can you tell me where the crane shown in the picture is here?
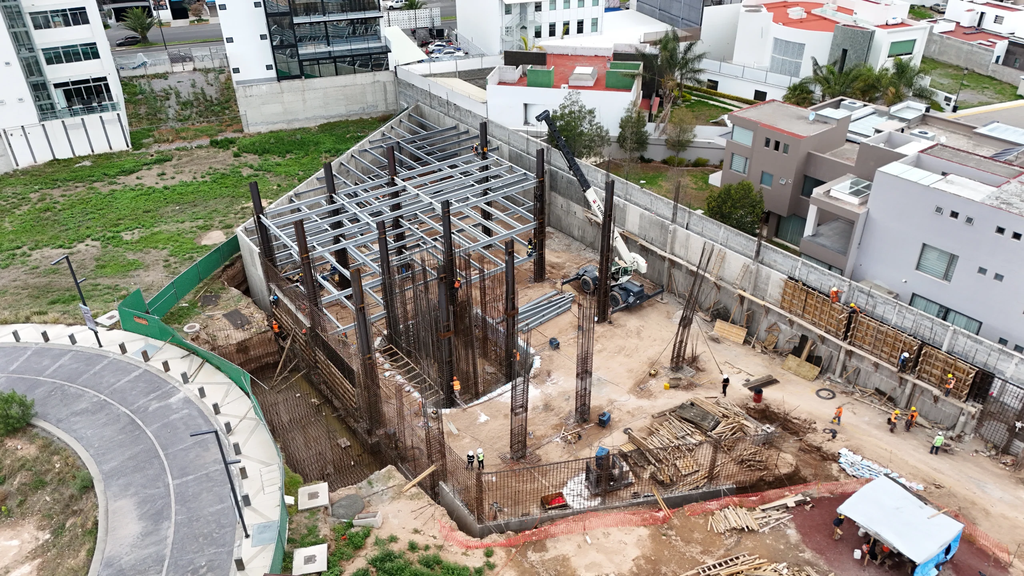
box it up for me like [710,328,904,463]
[538,110,668,317]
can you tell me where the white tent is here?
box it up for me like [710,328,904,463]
[824,474,966,576]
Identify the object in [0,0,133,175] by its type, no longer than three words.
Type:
building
